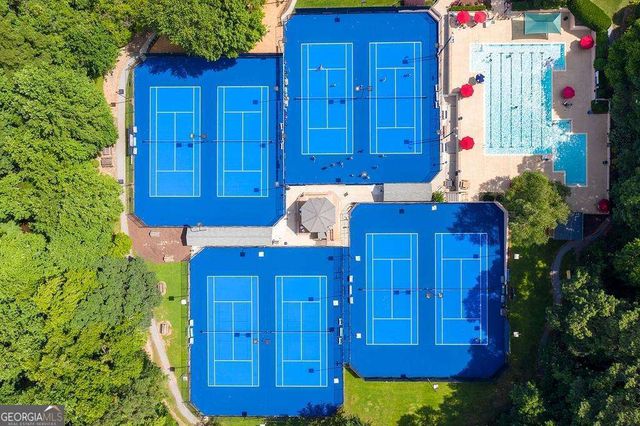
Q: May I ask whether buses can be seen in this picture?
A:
No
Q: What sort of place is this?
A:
sports ground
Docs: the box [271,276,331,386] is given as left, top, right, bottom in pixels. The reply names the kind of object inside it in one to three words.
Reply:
tennis court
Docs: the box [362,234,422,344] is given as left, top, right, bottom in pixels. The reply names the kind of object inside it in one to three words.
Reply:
tennis court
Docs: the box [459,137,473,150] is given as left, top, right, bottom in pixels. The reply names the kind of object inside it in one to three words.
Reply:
umbrella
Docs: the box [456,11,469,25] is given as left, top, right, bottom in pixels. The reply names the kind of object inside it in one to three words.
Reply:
umbrella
